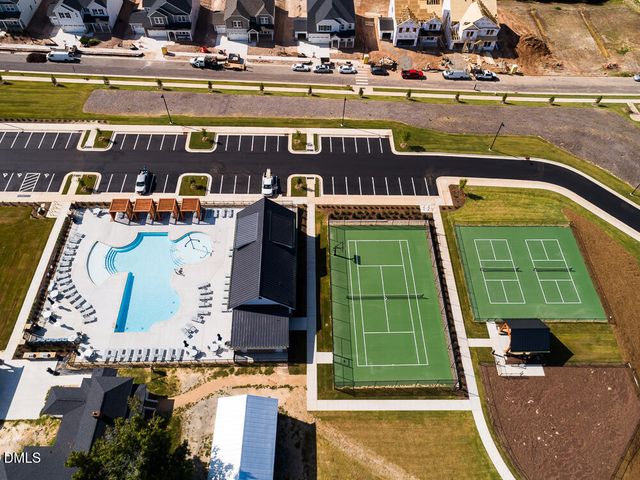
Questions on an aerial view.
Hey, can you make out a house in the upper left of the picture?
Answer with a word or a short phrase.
Yes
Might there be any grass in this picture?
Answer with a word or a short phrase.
Yes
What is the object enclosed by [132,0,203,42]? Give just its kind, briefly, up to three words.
house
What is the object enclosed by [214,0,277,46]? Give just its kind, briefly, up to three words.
house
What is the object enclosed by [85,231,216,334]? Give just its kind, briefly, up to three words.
swimming pool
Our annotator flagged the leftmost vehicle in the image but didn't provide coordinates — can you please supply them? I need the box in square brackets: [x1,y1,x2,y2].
[46,48,79,61]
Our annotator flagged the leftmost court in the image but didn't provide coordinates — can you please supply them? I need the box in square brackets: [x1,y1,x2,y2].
[328,224,458,388]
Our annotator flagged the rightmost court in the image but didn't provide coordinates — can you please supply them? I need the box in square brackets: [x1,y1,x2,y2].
[511,226,608,319]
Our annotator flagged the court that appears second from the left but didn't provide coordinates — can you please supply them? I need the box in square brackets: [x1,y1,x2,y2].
[454,226,541,319]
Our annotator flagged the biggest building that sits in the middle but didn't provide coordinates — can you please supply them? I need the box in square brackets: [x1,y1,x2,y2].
[228,196,296,361]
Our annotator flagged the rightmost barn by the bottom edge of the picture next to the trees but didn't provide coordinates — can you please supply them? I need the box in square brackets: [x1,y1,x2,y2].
[208,396,277,480]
